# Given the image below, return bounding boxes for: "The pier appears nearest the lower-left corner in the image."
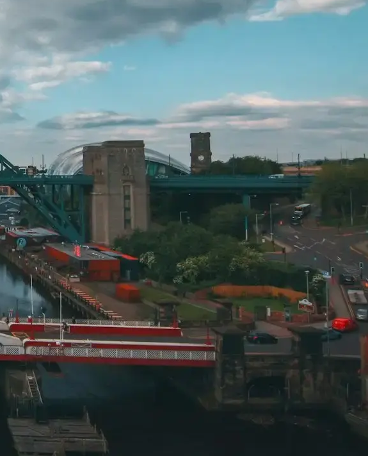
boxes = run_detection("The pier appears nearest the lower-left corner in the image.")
[4,402,118,456]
